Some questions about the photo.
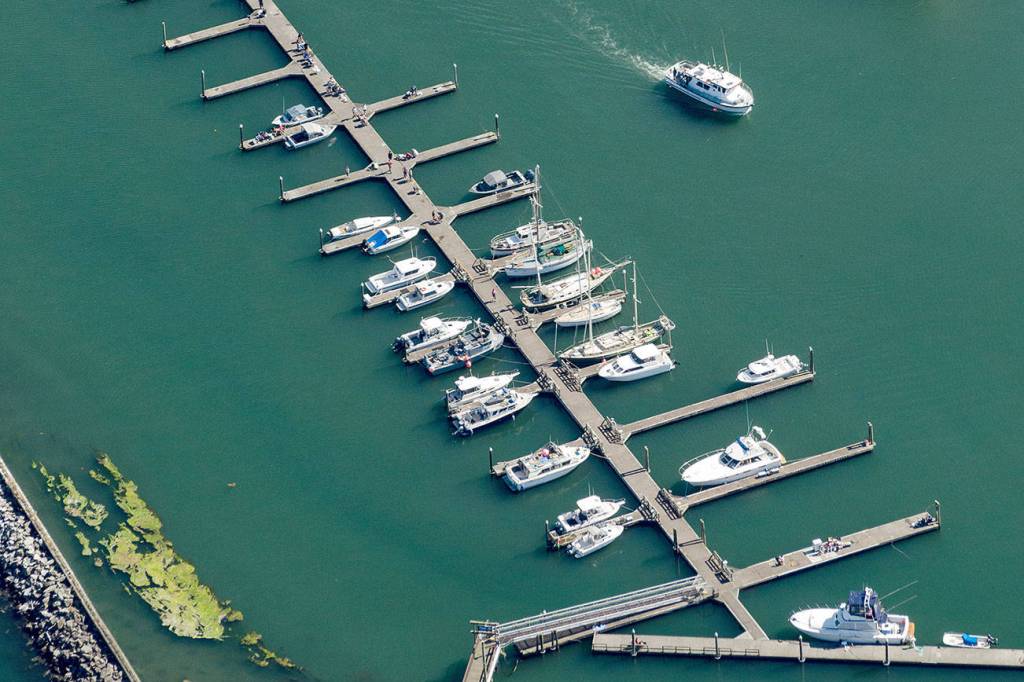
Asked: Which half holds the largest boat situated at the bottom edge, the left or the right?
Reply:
right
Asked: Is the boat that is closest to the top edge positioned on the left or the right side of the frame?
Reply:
right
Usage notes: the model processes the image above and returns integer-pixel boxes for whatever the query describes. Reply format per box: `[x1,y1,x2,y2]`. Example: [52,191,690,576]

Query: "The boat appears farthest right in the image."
[942,633,998,649]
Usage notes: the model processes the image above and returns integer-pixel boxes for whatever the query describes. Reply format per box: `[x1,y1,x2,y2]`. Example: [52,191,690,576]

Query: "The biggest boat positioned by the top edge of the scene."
[665,31,755,115]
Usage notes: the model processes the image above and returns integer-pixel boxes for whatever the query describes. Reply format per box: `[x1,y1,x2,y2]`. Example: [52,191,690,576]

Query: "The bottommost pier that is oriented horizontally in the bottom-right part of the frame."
[595,633,1024,670]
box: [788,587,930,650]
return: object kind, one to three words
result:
boat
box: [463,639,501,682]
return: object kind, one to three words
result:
pier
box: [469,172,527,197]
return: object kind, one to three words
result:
boat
